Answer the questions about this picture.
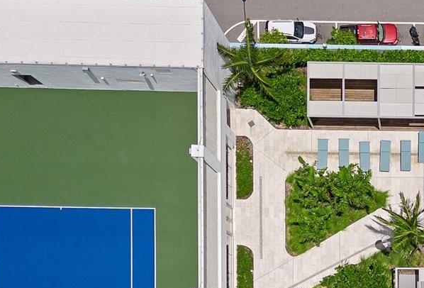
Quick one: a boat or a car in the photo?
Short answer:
car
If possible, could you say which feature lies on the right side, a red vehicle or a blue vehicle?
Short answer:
red vehicle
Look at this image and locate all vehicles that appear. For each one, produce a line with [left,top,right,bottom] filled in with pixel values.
[269,18,319,44]
[340,19,399,44]
[410,24,418,44]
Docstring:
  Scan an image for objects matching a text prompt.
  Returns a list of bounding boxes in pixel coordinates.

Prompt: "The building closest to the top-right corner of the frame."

[307,62,424,132]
